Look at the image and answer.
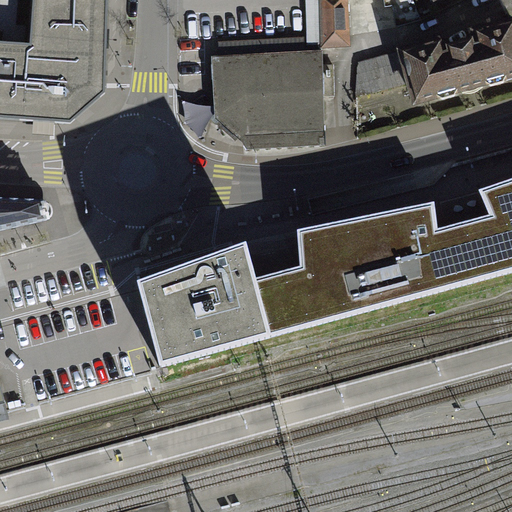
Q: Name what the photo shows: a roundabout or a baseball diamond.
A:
roundabout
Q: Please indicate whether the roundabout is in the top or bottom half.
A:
top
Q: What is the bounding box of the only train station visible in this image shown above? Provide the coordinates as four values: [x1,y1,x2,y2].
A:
[0,338,512,509]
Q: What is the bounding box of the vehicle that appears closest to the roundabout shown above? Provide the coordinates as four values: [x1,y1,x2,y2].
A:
[188,154,208,168]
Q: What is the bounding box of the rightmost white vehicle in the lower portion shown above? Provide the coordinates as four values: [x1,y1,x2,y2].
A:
[120,354,132,375]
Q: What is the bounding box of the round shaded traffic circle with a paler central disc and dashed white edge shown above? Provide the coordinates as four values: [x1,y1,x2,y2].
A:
[81,112,195,228]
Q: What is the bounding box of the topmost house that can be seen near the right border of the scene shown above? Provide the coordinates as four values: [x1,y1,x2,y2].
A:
[396,22,512,106]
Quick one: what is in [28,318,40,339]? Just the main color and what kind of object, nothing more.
red vehicle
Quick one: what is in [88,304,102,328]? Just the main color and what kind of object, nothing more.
red vehicle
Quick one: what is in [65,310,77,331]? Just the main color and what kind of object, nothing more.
white vehicle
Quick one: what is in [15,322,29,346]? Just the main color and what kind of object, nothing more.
white vehicle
